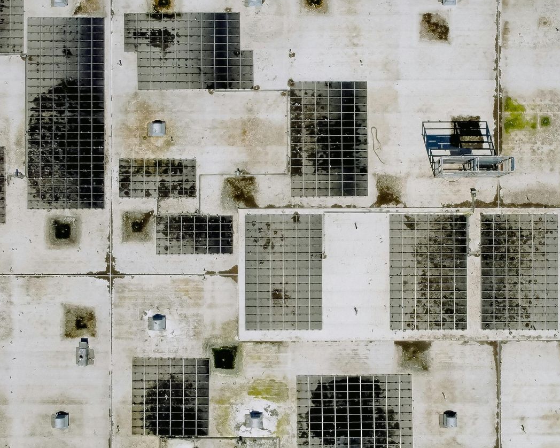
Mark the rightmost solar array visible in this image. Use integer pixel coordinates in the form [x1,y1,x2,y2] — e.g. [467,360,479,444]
[481,212,560,330]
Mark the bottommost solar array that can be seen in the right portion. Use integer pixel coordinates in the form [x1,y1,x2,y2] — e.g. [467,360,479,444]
[296,374,414,448]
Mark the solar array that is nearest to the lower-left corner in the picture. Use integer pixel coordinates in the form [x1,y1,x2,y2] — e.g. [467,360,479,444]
[131,357,210,435]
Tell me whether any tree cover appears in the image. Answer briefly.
No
